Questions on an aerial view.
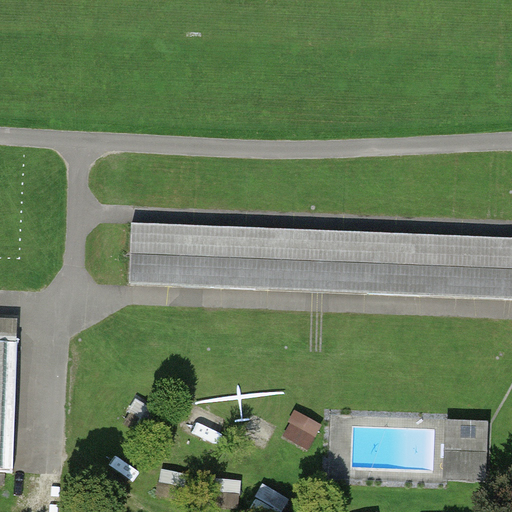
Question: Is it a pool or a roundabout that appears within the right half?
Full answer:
The one visible within the right half is a pool.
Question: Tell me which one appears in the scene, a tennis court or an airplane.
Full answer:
There is an airplane in the scene.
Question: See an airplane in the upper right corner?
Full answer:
No, I can find no airplane in the upper right corner.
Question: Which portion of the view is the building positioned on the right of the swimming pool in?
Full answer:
The building positioned on the right of the swimming pool is located in the bottom right region of the scene.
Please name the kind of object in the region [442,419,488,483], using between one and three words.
building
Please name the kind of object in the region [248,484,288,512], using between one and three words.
shed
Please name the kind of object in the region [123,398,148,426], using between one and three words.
building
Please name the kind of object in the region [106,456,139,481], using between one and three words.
camper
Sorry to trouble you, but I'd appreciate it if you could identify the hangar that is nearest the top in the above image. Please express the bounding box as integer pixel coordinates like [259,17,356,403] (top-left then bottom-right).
[126,222,512,300]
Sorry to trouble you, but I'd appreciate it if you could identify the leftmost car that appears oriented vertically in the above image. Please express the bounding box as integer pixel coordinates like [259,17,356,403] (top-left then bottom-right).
[13,470,25,496]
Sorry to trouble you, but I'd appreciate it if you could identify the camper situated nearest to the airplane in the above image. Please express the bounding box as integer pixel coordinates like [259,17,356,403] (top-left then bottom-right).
[188,422,222,444]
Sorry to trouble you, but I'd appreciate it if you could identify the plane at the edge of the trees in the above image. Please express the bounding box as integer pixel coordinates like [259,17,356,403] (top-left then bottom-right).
[196,384,285,420]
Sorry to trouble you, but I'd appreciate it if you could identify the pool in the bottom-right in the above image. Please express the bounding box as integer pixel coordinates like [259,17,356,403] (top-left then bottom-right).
[350,426,435,477]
